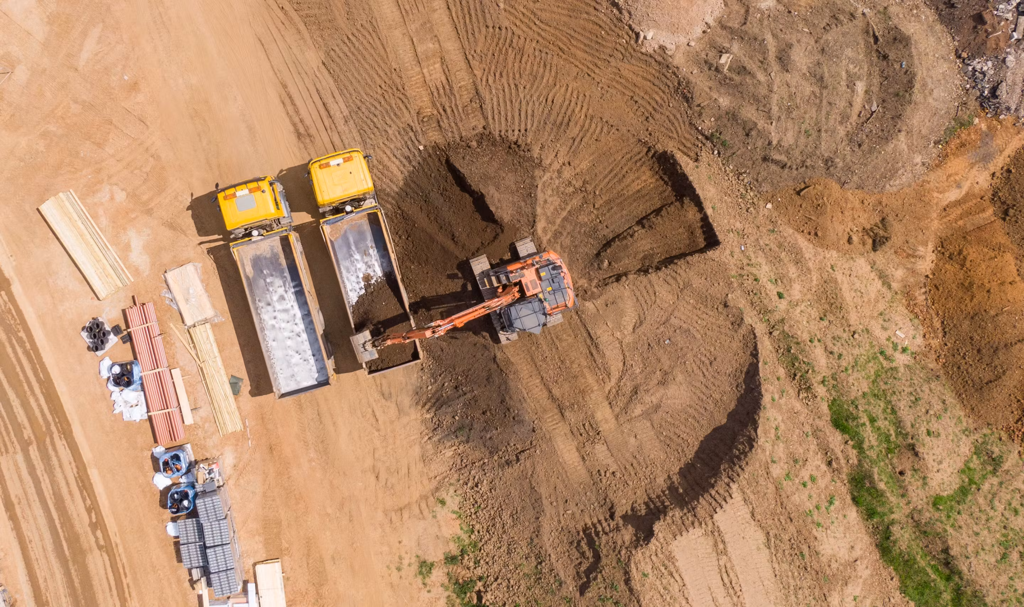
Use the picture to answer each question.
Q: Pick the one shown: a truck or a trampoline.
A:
truck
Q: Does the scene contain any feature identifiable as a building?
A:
No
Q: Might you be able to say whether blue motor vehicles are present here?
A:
No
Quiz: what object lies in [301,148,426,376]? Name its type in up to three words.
truck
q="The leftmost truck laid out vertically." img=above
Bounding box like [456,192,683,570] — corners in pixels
[212,176,340,400]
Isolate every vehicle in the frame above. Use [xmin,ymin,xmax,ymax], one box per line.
[301,148,426,376]
[348,237,574,367]
[212,176,340,400]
